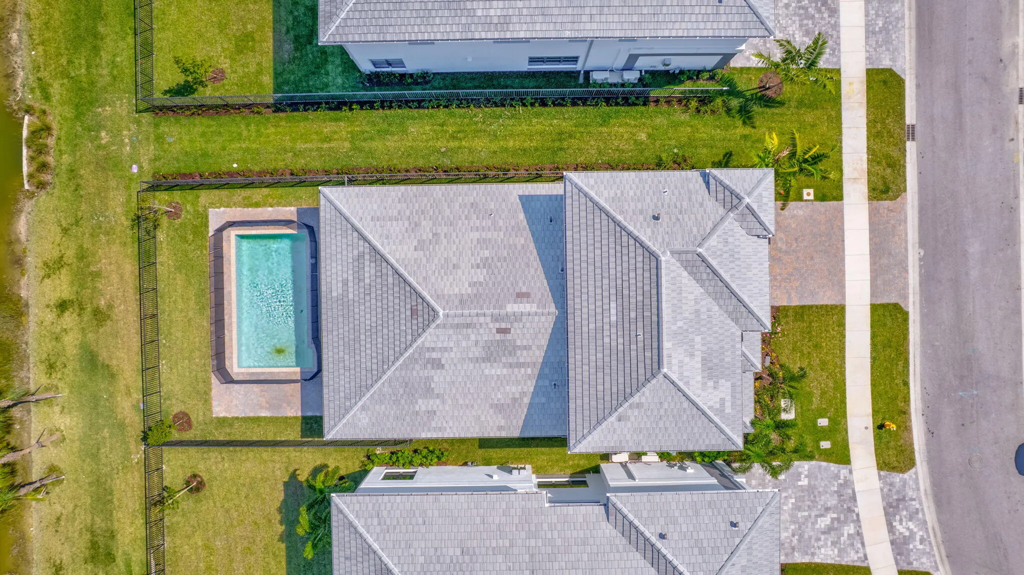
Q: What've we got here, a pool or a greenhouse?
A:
pool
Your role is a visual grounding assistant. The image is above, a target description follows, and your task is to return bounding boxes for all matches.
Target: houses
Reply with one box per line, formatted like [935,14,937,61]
[315,0,778,75]
[329,460,785,575]
[318,162,780,455]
